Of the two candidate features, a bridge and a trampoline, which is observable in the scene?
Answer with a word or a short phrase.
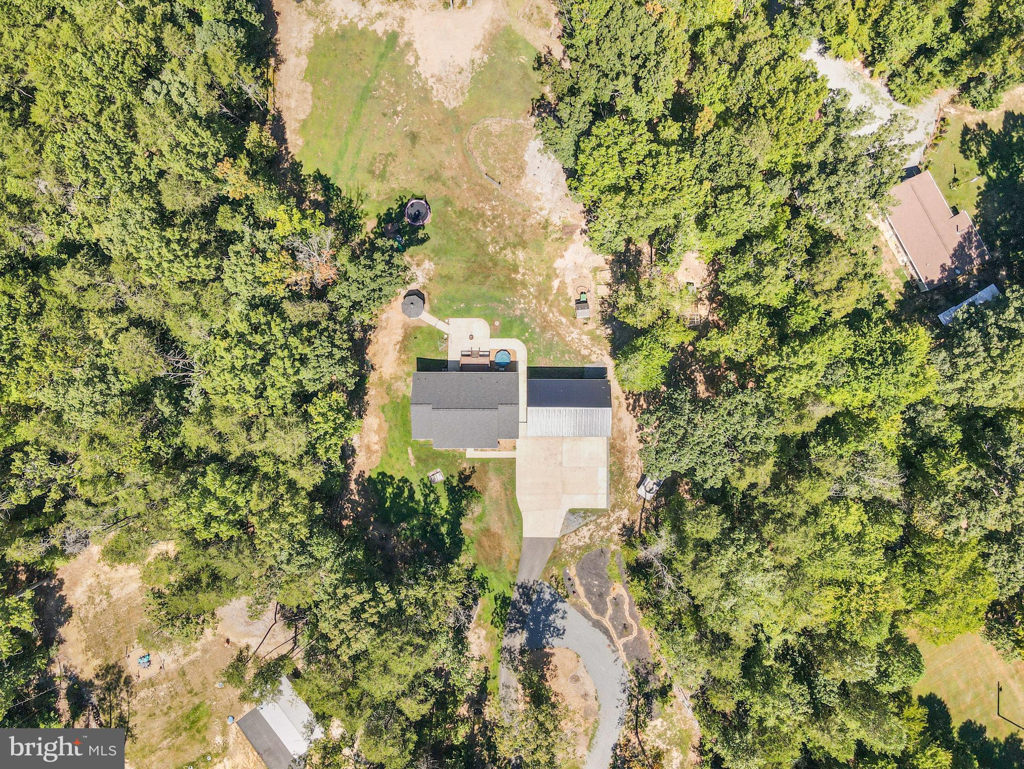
trampoline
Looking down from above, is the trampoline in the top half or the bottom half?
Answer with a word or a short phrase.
top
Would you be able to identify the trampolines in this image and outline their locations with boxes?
[404,194,430,227]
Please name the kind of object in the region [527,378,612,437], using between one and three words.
building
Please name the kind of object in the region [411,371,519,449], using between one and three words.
house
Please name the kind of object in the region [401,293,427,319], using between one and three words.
gazebo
